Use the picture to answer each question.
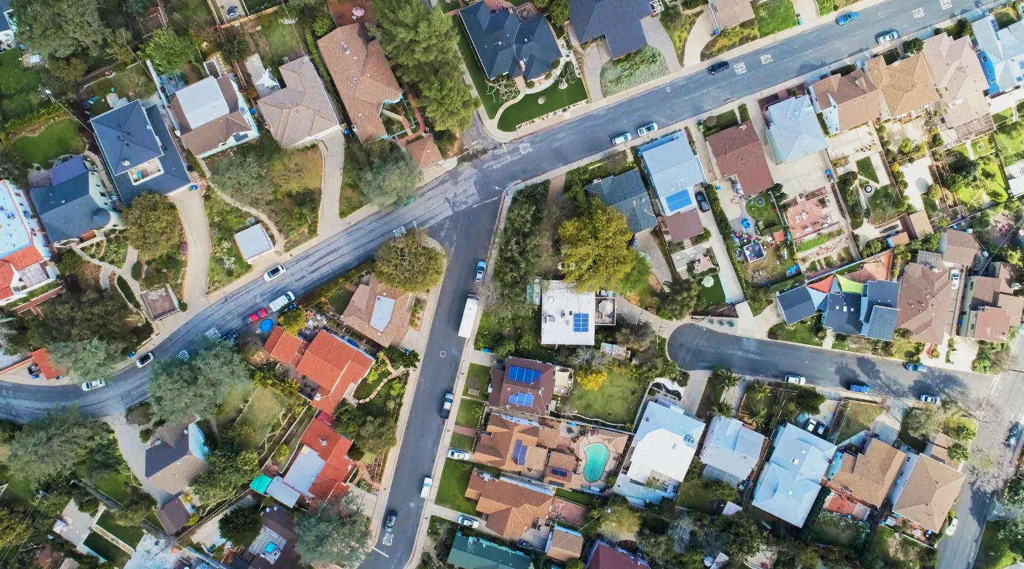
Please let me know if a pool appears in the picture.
Yes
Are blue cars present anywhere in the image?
Yes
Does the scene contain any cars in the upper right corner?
Yes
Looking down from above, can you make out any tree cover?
Yes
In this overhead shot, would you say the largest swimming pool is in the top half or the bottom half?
bottom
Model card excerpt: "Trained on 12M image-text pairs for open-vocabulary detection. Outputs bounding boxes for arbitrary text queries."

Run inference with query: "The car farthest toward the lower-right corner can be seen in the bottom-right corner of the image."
[941,515,960,538]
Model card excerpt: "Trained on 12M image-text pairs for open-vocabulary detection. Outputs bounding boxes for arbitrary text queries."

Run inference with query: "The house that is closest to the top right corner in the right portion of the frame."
[954,18,1024,96]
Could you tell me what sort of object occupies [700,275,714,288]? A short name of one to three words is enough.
umbrella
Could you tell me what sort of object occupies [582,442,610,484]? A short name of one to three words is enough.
swimming pool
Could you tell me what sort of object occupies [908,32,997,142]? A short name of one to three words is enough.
house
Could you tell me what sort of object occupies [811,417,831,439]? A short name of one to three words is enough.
car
